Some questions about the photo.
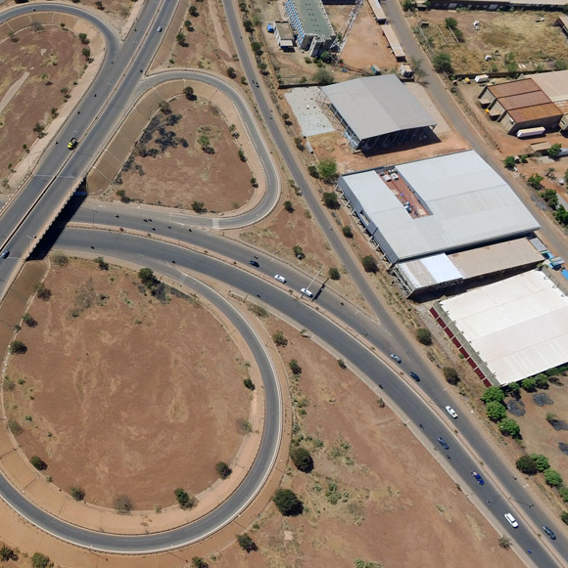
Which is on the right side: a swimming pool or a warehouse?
warehouse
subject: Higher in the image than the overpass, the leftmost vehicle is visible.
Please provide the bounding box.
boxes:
[66,137,79,151]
